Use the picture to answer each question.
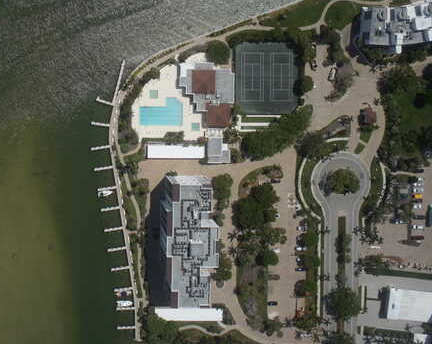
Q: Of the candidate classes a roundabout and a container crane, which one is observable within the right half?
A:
roundabout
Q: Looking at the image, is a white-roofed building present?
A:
Yes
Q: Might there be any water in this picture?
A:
Yes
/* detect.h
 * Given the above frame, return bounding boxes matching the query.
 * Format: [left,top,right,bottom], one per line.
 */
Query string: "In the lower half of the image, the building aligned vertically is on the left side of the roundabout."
[157,177,218,308]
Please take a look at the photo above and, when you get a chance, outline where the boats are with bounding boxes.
[115,301,133,307]
[114,292,132,297]
[96,191,112,197]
